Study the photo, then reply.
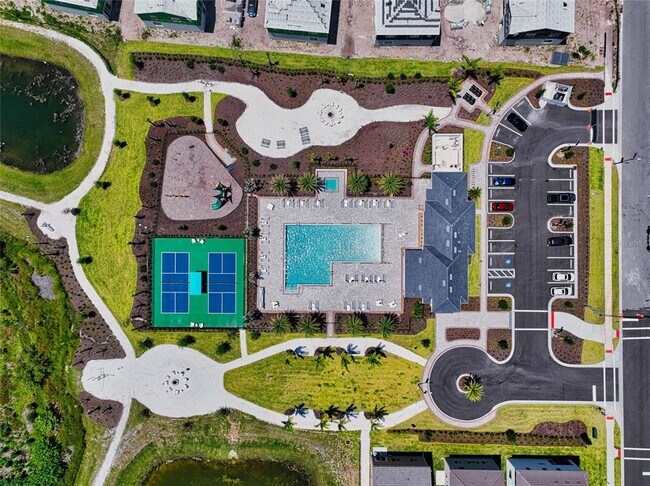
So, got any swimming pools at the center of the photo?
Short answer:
Yes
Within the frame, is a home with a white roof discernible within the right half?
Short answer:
Yes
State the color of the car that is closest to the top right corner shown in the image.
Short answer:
black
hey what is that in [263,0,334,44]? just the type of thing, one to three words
house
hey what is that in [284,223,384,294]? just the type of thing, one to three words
swimming pool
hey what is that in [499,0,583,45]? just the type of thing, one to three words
house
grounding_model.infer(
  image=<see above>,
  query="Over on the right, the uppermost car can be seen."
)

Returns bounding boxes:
[506,113,527,133]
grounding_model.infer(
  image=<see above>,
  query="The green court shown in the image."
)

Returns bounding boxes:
[154,238,244,327]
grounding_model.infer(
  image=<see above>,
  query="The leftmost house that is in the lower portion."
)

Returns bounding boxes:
[371,446,430,486]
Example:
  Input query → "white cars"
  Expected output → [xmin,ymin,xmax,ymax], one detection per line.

[550,286,572,296]
[551,272,573,282]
